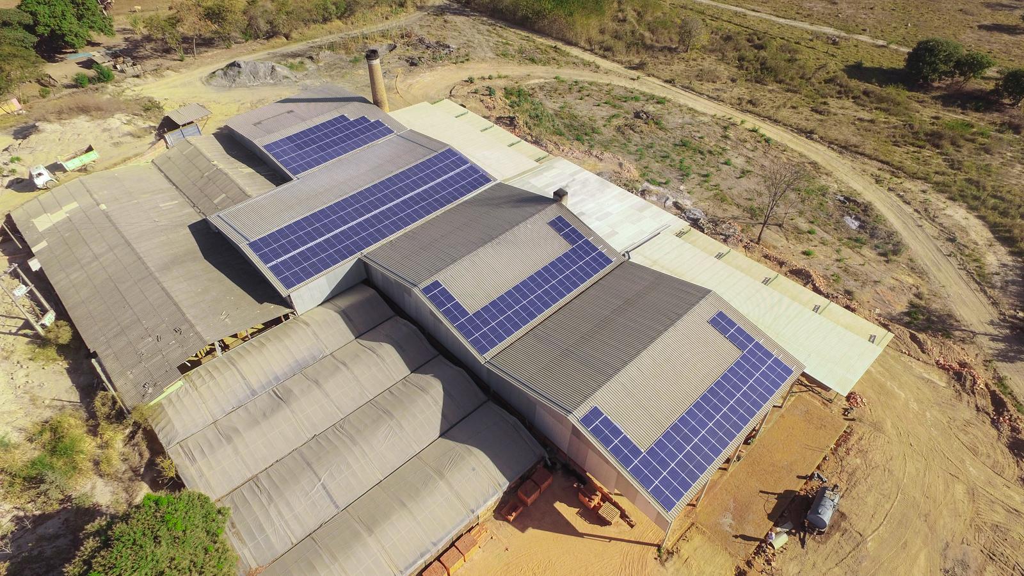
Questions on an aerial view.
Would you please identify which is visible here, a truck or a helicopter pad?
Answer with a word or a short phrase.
truck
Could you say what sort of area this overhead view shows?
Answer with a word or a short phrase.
industrial area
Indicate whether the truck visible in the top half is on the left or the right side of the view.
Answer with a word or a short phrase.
left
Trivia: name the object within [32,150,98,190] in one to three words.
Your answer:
truck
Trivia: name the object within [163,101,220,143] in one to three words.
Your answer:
shed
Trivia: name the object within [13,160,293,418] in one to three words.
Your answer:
shed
